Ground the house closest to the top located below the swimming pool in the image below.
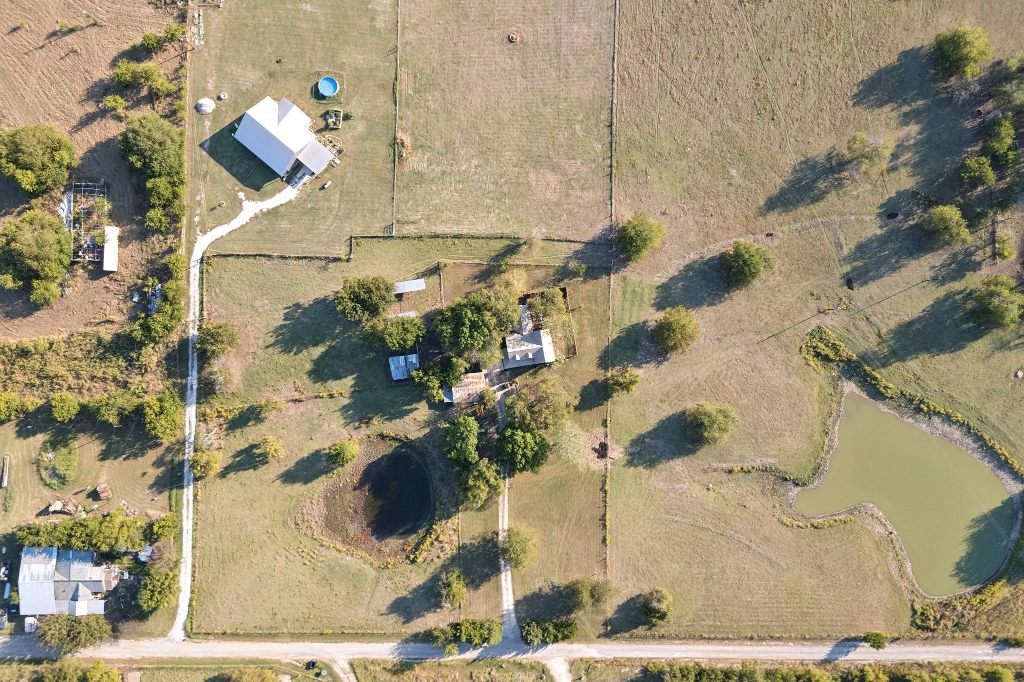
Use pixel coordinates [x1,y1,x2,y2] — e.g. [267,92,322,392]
[234,96,336,179]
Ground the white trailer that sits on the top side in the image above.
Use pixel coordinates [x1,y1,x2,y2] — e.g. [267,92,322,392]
[104,226,123,272]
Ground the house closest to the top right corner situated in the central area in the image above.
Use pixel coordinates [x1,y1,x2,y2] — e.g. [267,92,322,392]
[482,304,555,373]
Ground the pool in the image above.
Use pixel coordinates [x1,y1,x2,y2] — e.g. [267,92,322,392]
[317,76,339,99]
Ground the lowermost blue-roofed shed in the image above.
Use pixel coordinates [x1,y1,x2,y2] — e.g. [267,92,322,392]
[389,354,420,380]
